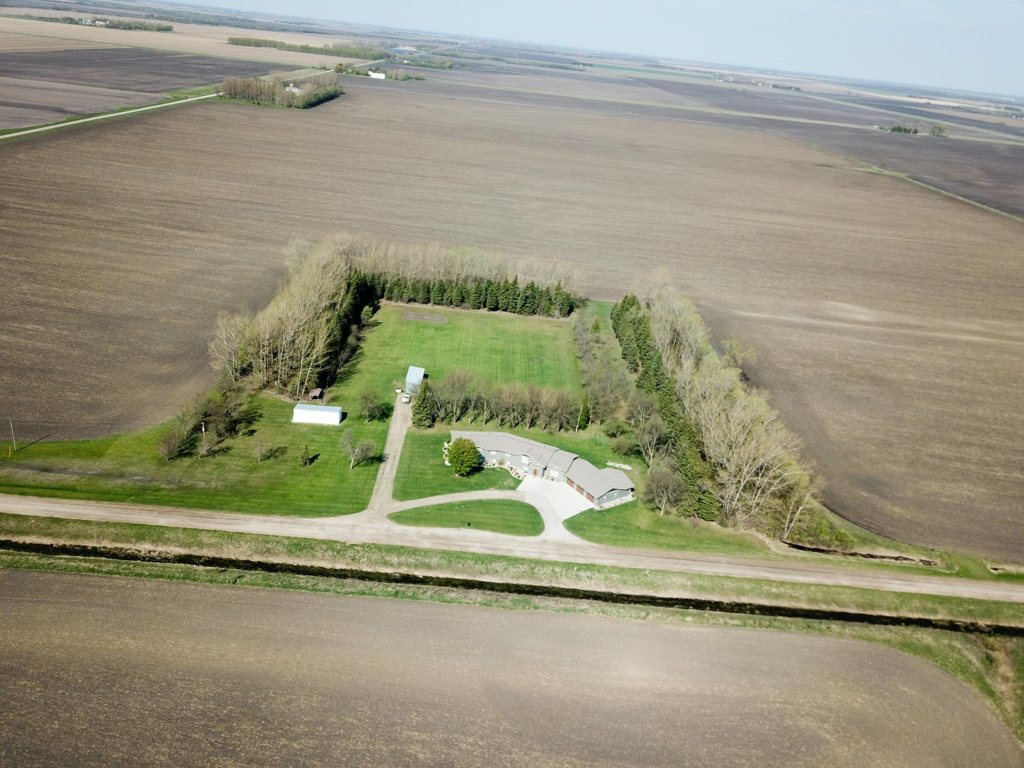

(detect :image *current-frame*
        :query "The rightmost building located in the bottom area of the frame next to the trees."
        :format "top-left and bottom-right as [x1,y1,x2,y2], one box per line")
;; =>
[448,431,634,509]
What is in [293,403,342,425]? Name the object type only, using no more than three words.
shed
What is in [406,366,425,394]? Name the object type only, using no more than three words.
barn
